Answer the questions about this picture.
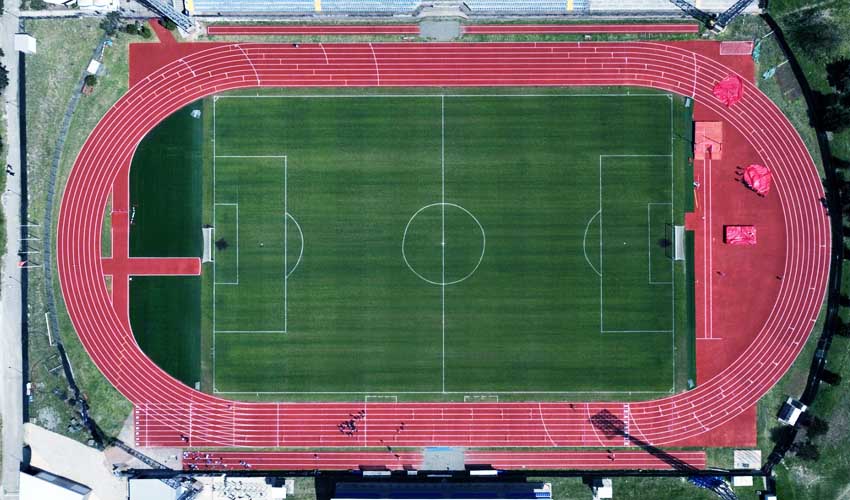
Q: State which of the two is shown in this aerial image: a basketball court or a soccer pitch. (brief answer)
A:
soccer pitch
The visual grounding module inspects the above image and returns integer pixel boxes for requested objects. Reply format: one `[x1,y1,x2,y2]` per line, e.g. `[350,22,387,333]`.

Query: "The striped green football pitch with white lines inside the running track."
[203,86,687,403]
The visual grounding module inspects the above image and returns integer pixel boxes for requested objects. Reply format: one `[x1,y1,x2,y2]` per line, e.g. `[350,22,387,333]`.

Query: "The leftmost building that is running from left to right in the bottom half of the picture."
[11,467,92,500]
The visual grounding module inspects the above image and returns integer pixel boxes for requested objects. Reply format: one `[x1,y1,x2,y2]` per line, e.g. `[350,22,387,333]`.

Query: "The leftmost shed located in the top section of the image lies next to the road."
[15,33,36,55]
